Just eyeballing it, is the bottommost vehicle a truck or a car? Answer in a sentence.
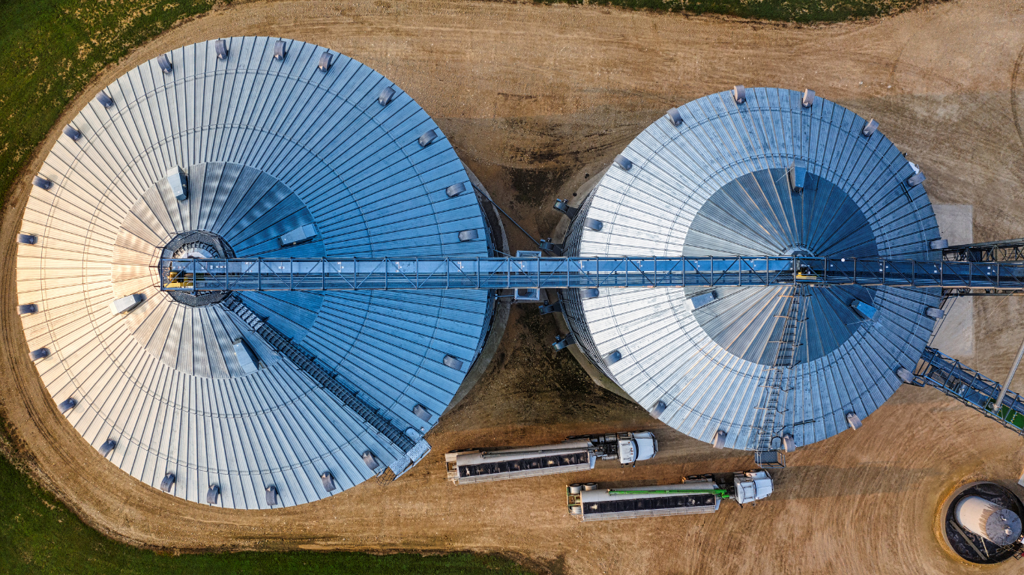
Looking closely, the bottommost vehicle is a truck.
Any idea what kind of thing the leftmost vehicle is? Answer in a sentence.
The leftmost vehicle in the image is a truck.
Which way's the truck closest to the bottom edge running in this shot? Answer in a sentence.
What the image shows is the truck closest to the bottom edge lying horizontally.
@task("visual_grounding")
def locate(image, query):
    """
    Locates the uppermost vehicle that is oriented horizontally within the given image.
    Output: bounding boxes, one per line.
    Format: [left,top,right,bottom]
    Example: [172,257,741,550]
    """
[440,429,659,484]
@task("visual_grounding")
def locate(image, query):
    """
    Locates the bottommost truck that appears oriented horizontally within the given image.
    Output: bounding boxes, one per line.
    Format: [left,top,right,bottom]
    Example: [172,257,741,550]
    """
[564,471,778,521]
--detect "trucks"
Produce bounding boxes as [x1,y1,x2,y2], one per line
[440,429,659,484]
[564,471,778,521]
